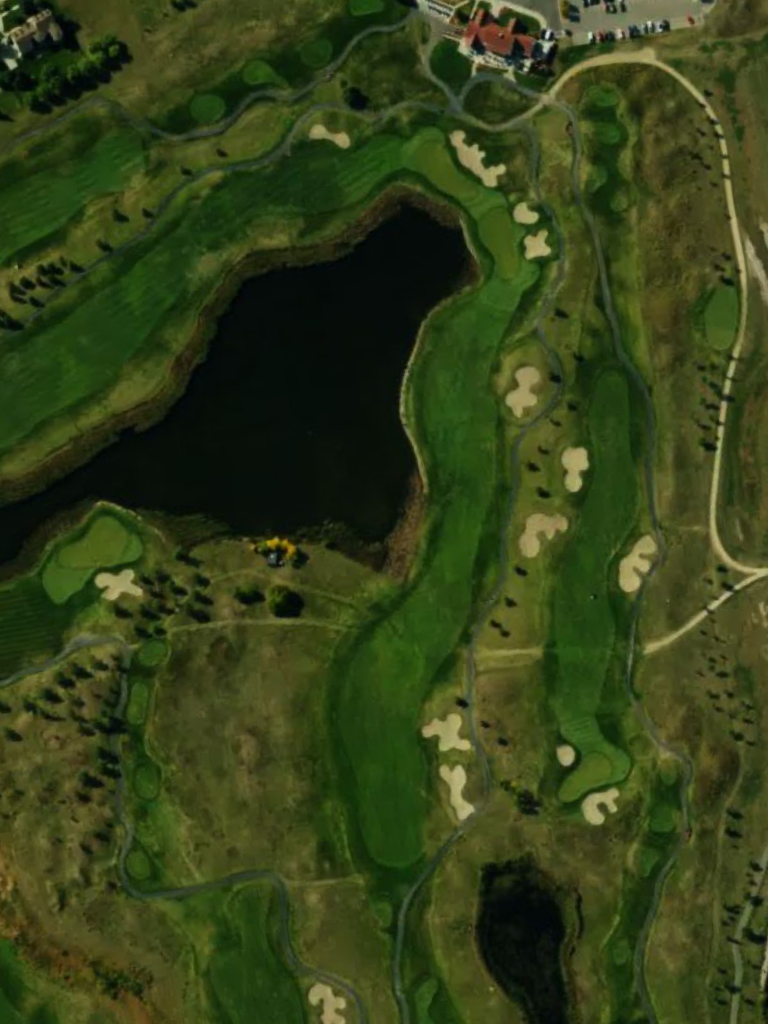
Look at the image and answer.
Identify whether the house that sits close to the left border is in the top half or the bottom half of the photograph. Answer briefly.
top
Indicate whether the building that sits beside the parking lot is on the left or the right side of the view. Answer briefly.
right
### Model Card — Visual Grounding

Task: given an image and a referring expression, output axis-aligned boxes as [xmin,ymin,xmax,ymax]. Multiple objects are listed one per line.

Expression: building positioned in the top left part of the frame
[0,11,64,61]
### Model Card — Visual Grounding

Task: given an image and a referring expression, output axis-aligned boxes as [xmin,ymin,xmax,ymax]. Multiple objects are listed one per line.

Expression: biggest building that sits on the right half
[461,4,538,58]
